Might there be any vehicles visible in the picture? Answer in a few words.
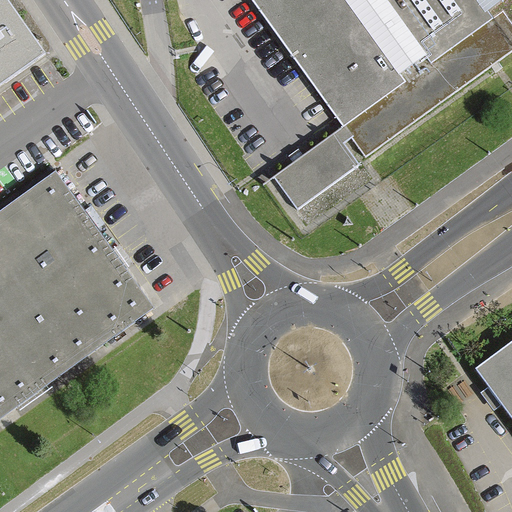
Yes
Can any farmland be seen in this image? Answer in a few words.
No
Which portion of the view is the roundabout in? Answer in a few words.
bottom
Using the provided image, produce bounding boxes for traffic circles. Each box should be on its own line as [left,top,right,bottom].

[210,276,408,483]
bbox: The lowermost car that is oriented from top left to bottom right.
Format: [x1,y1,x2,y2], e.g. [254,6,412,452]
[316,455,338,474]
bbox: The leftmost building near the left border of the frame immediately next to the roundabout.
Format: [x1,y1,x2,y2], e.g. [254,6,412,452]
[0,170,154,419]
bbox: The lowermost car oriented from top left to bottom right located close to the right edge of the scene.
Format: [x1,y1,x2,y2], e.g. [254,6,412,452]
[486,414,506,436]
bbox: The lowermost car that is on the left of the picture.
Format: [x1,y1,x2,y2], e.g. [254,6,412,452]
[140,488,162,505]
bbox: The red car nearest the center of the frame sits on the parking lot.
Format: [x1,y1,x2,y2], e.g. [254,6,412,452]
[154,274,174,292]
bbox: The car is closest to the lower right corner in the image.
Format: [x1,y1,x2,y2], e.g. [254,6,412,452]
[482,483,504,502]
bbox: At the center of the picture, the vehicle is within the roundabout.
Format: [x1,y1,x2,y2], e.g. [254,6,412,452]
[292,282,318,304]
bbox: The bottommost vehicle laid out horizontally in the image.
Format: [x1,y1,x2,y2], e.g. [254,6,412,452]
[238,438,270,452]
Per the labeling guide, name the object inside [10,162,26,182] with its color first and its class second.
white car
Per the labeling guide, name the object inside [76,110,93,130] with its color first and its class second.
white car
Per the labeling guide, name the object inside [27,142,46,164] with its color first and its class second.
gray car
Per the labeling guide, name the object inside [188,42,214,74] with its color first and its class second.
white vehicle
